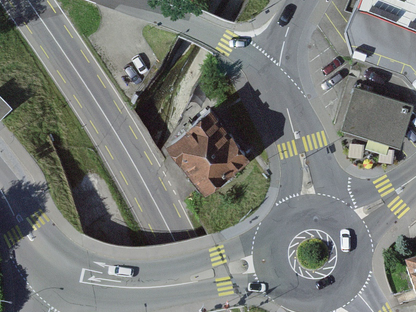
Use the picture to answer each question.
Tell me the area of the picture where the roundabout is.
bottom right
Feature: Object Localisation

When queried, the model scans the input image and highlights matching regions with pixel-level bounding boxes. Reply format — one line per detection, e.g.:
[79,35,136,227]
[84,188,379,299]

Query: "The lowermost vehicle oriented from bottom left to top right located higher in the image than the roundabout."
[324,71,346,89]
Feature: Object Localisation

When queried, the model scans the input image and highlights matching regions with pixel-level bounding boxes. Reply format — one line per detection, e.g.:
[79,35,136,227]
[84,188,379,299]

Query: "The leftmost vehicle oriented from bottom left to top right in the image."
[279,4,296,26]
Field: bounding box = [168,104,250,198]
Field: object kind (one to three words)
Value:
house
